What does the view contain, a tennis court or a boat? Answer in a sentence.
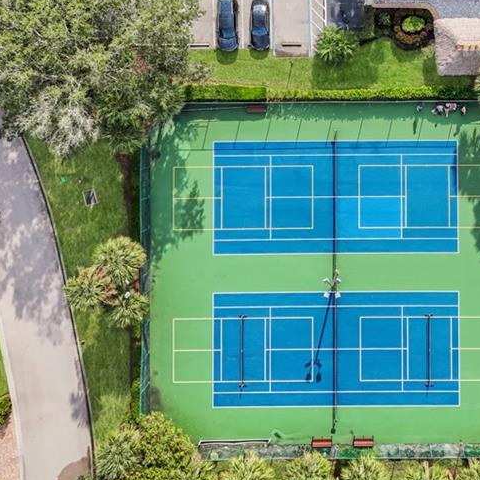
The one in the frame is a tennis court.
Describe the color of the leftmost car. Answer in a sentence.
The leftmost car looks blue in the image.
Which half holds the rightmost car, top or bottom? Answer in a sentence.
The top half of the photo is where the rightmost car is.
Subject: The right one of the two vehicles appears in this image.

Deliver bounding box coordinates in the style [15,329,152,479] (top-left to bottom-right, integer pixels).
[249,1,272,51]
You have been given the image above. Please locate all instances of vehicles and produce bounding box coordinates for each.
[215,0,239,52]
[249,1,272,51]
